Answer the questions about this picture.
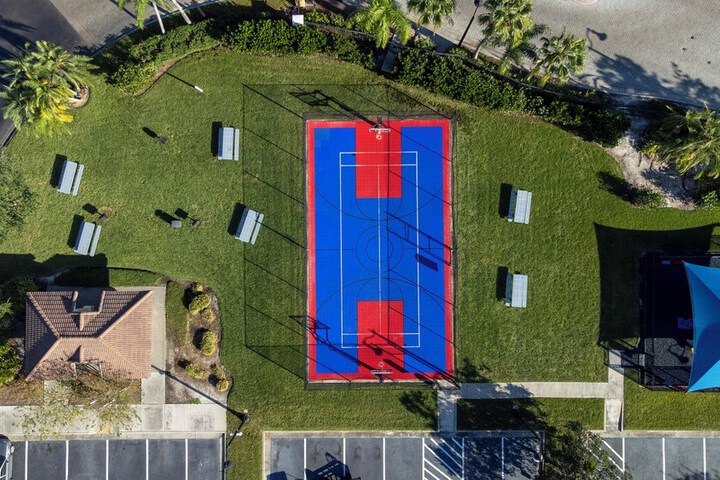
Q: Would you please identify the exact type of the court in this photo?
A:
basketball court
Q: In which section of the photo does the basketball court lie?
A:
center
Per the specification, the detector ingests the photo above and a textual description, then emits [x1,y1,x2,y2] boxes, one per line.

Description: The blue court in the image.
[306,117,454,383]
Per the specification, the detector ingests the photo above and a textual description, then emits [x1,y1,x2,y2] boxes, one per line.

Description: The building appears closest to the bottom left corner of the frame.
[20,290,153,383]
